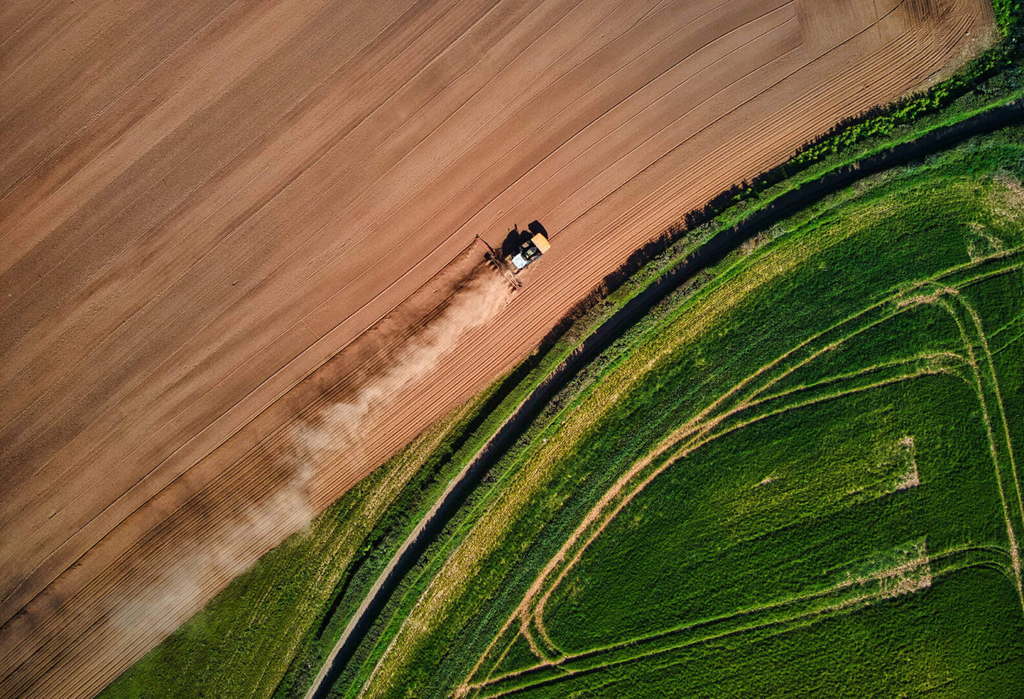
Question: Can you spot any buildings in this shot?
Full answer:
No, there is no building in the image.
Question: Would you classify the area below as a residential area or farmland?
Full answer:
It's farmland.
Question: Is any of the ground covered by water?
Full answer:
No, water can't be seen anywhere here.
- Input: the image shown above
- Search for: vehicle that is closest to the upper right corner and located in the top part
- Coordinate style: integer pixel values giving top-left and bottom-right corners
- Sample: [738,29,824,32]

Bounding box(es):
[504,233,550,276]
